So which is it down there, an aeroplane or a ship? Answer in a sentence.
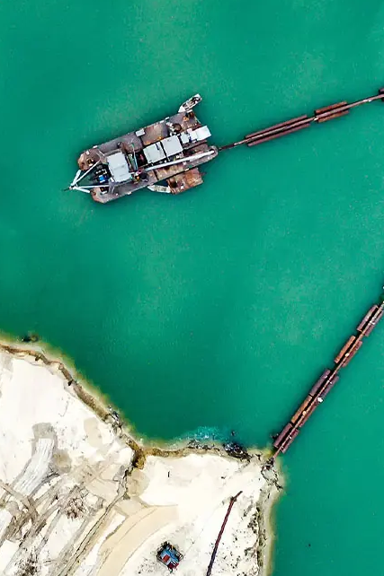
It is a ship that can be seen here.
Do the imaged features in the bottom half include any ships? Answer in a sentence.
No, no ship is visible in the bottom half.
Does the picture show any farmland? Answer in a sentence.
No, there is no farmland in the image.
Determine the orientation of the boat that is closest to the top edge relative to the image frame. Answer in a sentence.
In this picture, the boat that is closest to the top edge is oriented diagonally.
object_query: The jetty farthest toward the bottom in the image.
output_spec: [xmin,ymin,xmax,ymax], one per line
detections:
[266,423,300,464]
